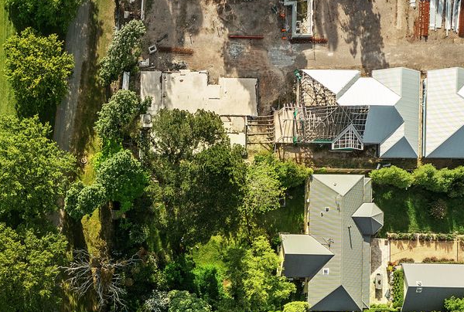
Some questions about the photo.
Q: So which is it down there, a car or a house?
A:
house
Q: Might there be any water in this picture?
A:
No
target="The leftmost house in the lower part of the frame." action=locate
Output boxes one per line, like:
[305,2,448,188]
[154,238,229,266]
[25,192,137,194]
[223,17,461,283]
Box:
[278,174,394,312]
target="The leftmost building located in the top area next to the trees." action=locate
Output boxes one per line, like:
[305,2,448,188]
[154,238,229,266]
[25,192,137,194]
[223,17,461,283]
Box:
[296,64,419,159]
